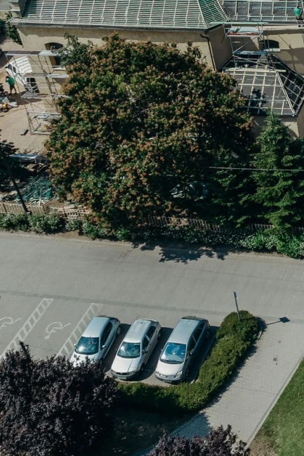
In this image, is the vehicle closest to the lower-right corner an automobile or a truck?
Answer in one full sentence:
I'd identify the vehicle closest to the lower-right corner as an automobile.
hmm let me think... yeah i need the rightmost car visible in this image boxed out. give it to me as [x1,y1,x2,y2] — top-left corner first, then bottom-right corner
[155,315,211,384]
